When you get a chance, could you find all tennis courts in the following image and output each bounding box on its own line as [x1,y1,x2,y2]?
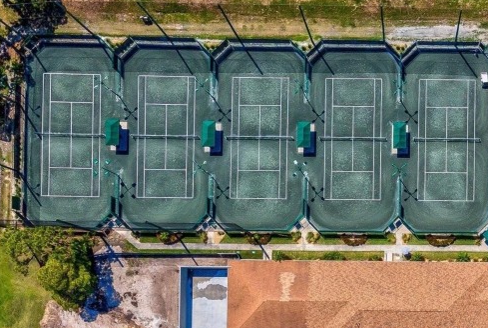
[400,48,488,236]
[122,45,216,232]
[215,46,310,233]
[32,42,122,228]
[308,47,400,235]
